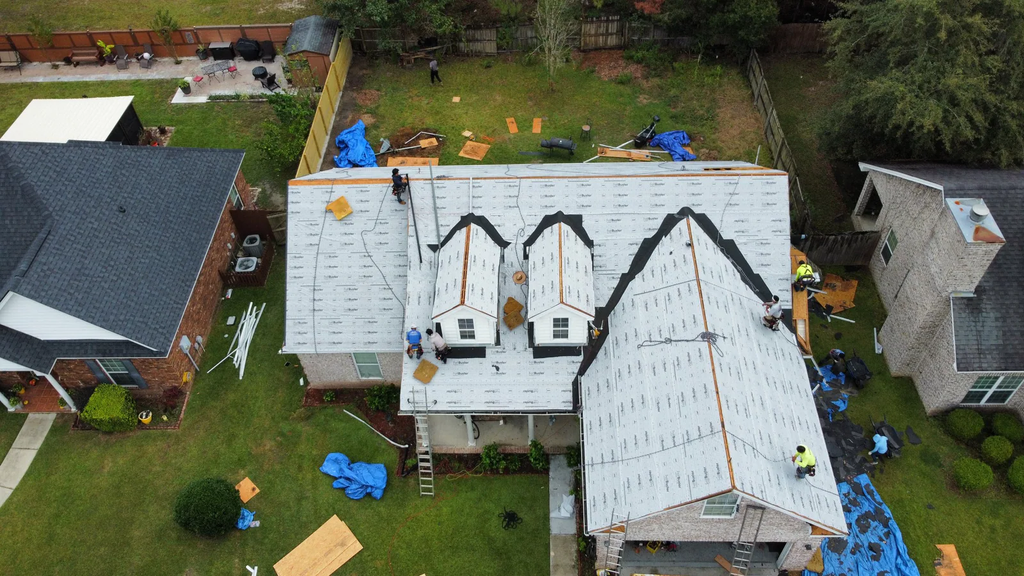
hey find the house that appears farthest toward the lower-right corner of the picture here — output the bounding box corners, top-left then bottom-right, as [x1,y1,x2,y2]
[854,161,1024,418]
